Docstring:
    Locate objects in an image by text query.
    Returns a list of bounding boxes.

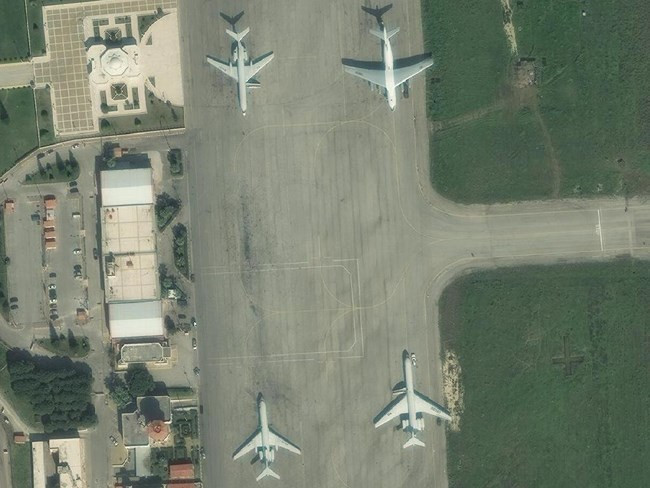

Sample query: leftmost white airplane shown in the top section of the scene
[208,30,273,115]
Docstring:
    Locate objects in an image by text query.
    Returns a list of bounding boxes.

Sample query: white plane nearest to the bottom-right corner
[376,357,451,447]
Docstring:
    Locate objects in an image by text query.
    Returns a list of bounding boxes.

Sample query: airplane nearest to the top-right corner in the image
[345,26,432,110]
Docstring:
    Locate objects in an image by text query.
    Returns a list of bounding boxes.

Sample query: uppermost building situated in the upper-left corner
[88,44,143,86]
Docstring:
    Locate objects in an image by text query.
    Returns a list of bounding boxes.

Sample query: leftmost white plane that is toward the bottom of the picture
[234,399,300,480]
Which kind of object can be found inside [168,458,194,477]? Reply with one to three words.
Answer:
house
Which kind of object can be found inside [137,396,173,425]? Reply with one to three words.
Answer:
building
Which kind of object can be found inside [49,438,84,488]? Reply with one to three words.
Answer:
building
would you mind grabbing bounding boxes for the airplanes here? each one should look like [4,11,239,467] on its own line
[234,399,300,480]
[345,26,432,110]
[208,30,273,115]
[376,357,451,447]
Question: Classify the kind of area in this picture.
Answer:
airport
